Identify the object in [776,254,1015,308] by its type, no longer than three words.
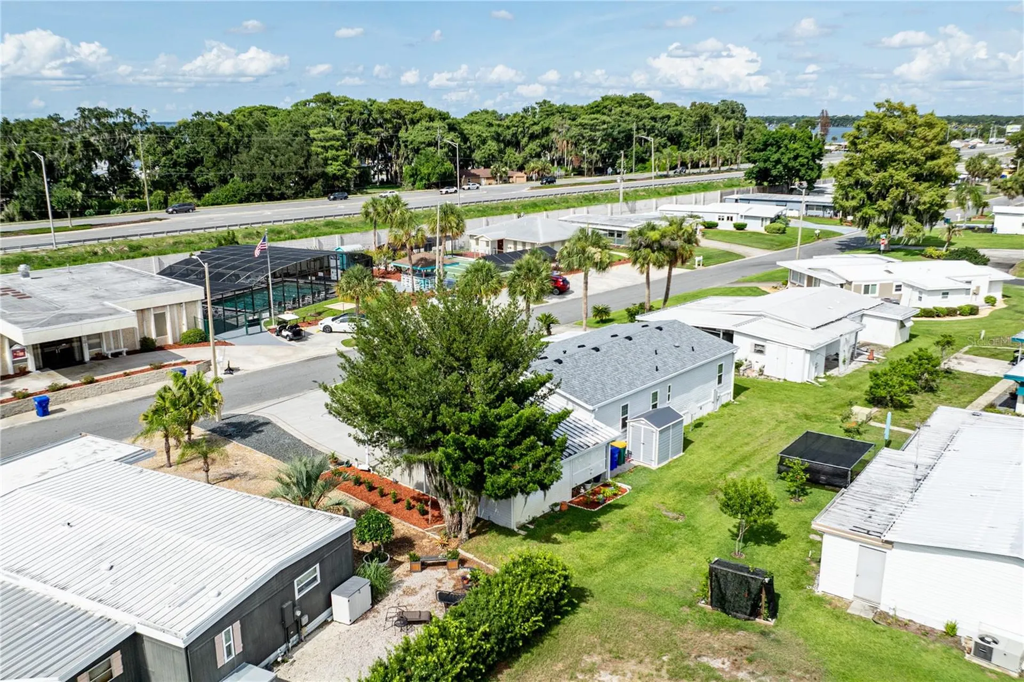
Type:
house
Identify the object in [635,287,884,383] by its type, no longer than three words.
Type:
house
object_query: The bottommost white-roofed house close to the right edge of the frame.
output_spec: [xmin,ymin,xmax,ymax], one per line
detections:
[807,403,1024,634]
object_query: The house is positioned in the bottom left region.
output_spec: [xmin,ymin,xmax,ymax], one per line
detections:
[0,419,361,682]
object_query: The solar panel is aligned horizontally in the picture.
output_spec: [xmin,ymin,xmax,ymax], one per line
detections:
[480,248,558,273]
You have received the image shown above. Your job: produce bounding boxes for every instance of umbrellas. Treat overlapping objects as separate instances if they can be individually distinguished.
[324,302,368,312]
[882,412,893,447]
